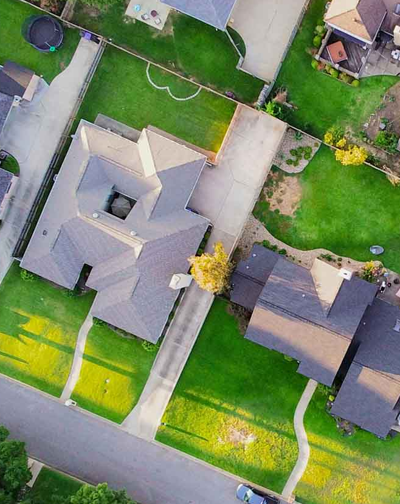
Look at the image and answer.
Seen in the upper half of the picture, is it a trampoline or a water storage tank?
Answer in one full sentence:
Looking in the upper half of the picture, you will find a trampoline.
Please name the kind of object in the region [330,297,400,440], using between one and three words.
building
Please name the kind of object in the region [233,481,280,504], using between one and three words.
truck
